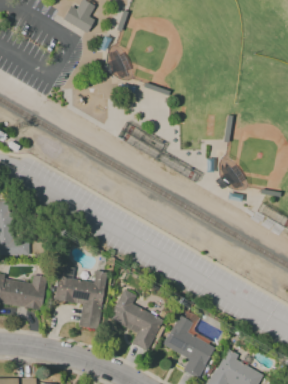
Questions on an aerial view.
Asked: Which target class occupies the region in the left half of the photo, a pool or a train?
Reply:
pool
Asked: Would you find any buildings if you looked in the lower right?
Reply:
Yes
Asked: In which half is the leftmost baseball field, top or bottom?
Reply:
top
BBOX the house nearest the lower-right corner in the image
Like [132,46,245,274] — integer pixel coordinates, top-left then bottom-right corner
[205,346,264,384]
